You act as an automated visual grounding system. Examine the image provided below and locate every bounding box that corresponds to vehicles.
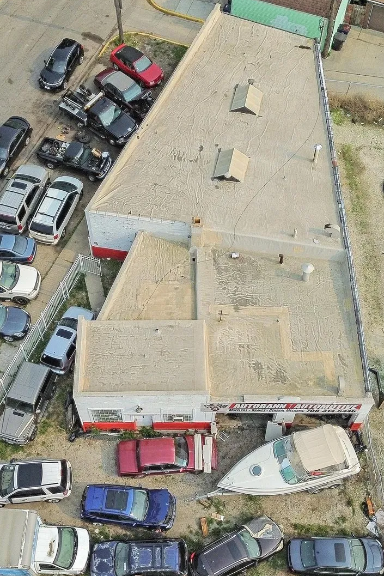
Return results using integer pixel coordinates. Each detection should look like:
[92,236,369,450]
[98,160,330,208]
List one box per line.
[92,65,154,116]
[0,300,33,344]
[0,509,92,576]
[90,533,189,576]
[0,457,75,506]
[0,166,52,233]
[0,354,56,451]
[116,432,218,478]
[0,256,42,302]
[285,530,384,576]
[33,139,109,185]
[0,231,39,266]
[58,86,138,149]
[41,34,87,92]
[109,45,164,91]
[0,114,34,180]
[27,178,85,248]
[189,513,285,576]
[78,480,177,532]
[39,305,94,382]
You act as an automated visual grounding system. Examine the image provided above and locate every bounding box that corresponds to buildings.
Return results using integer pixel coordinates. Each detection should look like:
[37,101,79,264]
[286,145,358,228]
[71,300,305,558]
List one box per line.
[363,0,384,34]
[74,0,378,438]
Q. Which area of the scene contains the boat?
bottom right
